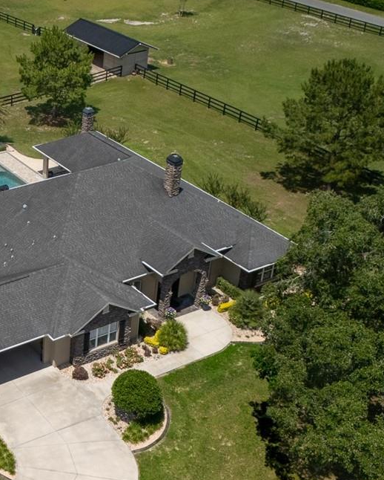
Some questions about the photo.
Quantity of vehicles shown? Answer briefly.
0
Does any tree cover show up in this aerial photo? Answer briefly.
Yes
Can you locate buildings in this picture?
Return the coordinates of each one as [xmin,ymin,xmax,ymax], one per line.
[0,104,307,372]
[73,23,159,77]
